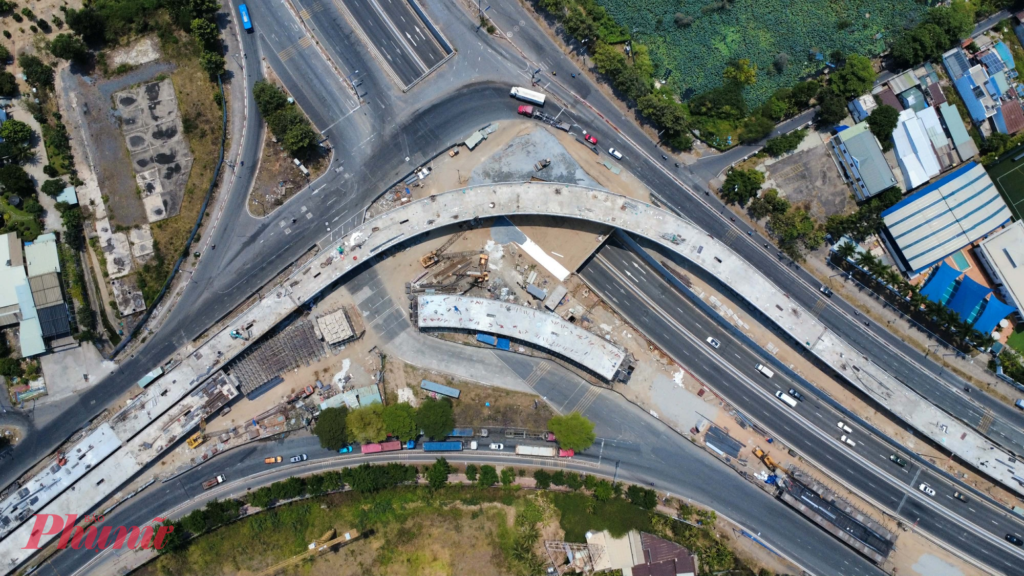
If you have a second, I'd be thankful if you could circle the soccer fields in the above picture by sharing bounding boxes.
[982,140,1024,220]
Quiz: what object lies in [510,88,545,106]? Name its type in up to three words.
vehicle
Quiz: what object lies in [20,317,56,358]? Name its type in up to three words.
shed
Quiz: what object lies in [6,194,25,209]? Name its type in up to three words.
gazebo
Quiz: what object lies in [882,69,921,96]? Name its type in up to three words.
house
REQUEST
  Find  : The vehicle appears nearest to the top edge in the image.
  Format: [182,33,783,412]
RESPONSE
[239,5,255,35]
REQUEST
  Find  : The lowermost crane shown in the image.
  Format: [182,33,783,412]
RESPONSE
[250,519,360,576]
